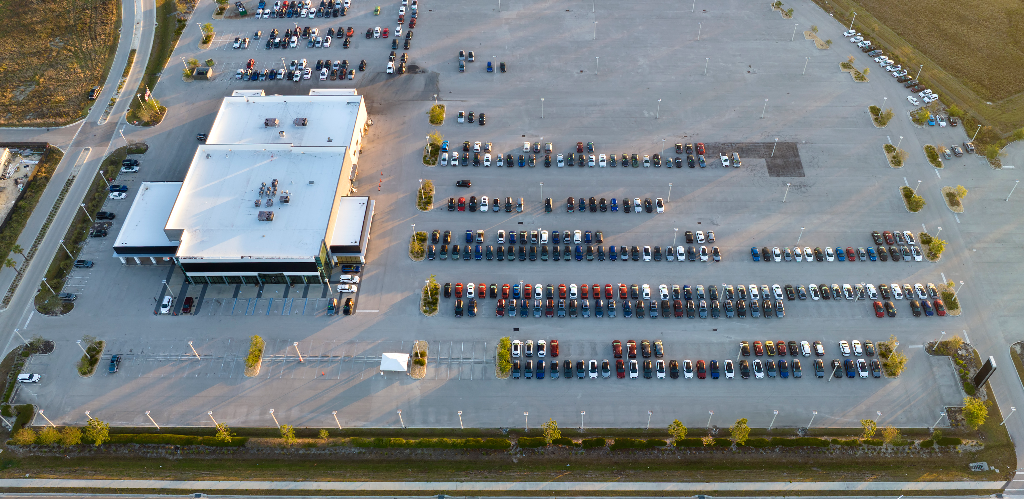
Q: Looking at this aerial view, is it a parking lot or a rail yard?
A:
parking lot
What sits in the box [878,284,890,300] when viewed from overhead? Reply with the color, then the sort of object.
black vehicle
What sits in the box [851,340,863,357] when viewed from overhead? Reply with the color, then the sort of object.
white vehicle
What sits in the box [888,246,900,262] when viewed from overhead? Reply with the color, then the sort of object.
black vehicle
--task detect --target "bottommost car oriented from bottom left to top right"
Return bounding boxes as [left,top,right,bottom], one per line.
[106,354,124,374]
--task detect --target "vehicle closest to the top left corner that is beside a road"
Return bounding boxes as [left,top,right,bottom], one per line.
[89,86,102,99]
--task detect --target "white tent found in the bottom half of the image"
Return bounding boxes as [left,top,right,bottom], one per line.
[380,353,409,376]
